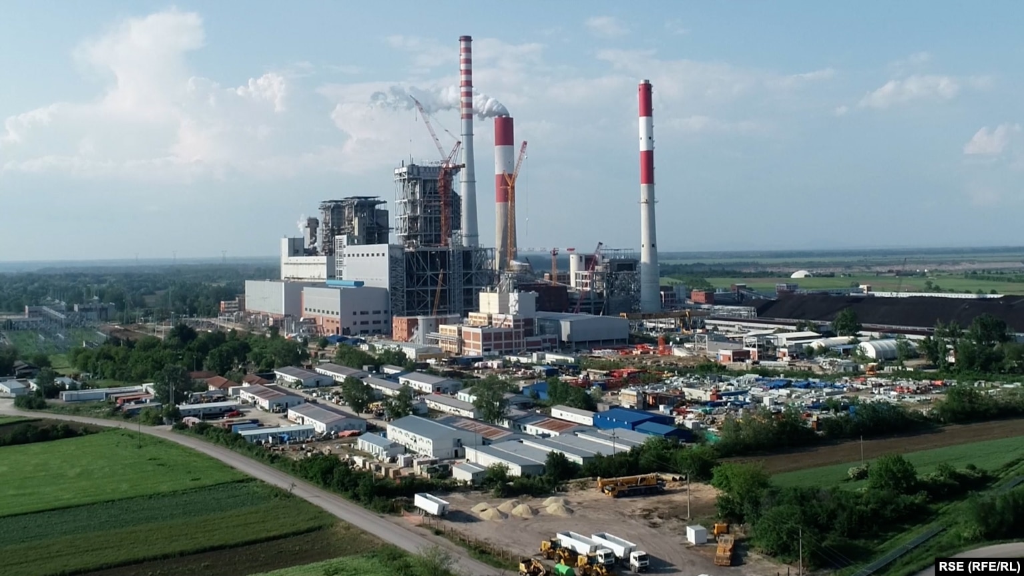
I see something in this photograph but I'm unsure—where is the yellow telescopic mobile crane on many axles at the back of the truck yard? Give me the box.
[598,472,667,498]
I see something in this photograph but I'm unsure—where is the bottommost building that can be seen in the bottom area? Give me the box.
[686,524,707,544]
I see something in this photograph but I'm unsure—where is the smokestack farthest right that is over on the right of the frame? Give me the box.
[640,79,661,312]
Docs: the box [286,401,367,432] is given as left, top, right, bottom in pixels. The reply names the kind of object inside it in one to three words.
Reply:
building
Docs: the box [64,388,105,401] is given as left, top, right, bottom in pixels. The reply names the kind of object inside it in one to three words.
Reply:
shed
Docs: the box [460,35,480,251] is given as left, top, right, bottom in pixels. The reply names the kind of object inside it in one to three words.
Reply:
chimney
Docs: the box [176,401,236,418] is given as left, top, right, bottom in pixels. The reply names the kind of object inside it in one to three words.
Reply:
shed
